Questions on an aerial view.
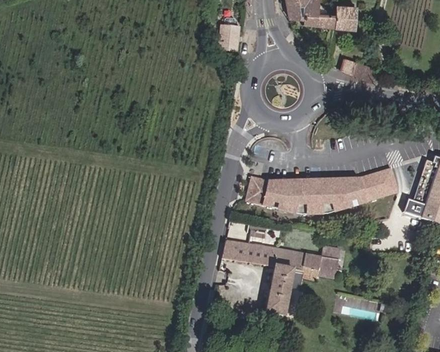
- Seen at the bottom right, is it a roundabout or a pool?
pool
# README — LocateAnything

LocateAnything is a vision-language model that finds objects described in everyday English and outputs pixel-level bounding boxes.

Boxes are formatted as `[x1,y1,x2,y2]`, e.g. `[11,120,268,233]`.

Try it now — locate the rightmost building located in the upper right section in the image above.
[341,59,378,87]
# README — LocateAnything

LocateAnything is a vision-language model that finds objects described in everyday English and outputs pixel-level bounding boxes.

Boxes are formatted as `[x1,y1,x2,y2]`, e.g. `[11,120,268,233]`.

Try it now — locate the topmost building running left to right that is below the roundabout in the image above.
[263,168,398,214]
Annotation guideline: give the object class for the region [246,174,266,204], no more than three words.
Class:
building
